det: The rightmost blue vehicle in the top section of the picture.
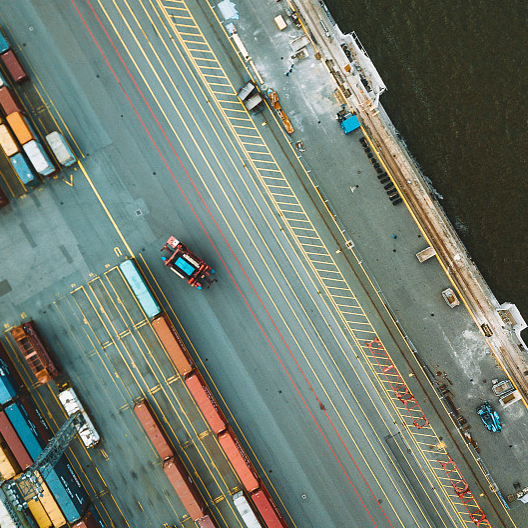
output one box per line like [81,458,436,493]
[334,111,361,136]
